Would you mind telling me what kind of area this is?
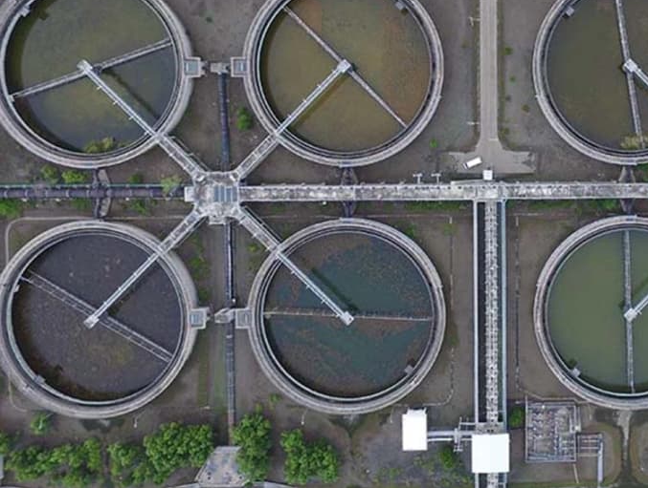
industrial area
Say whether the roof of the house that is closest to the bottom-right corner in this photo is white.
Yes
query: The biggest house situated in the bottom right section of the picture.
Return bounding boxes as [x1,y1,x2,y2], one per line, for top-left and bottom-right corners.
[471,430,510,474]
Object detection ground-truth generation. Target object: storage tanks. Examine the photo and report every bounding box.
[0,221,210,416]
[535,217,648,407]
[535,0,648,161]
[233,219,444,412]
[0,0,204,165]
[230,0,442,163]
